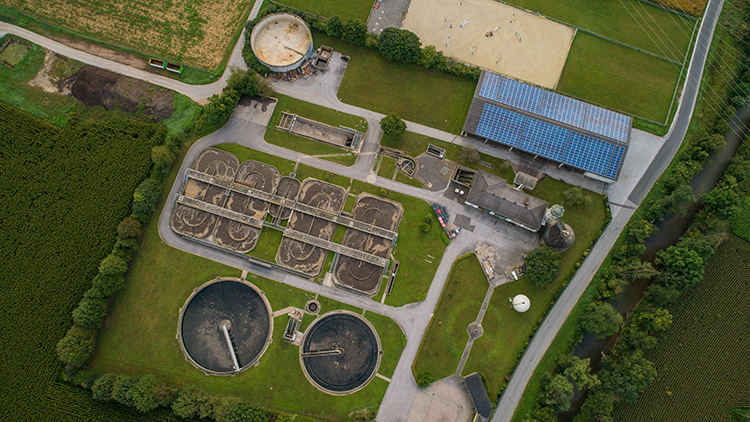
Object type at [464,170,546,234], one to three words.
building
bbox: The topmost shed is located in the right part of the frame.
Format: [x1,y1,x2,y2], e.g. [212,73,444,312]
[513,171,538,192]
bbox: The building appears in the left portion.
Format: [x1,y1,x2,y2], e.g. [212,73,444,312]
[282,310,300,344]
